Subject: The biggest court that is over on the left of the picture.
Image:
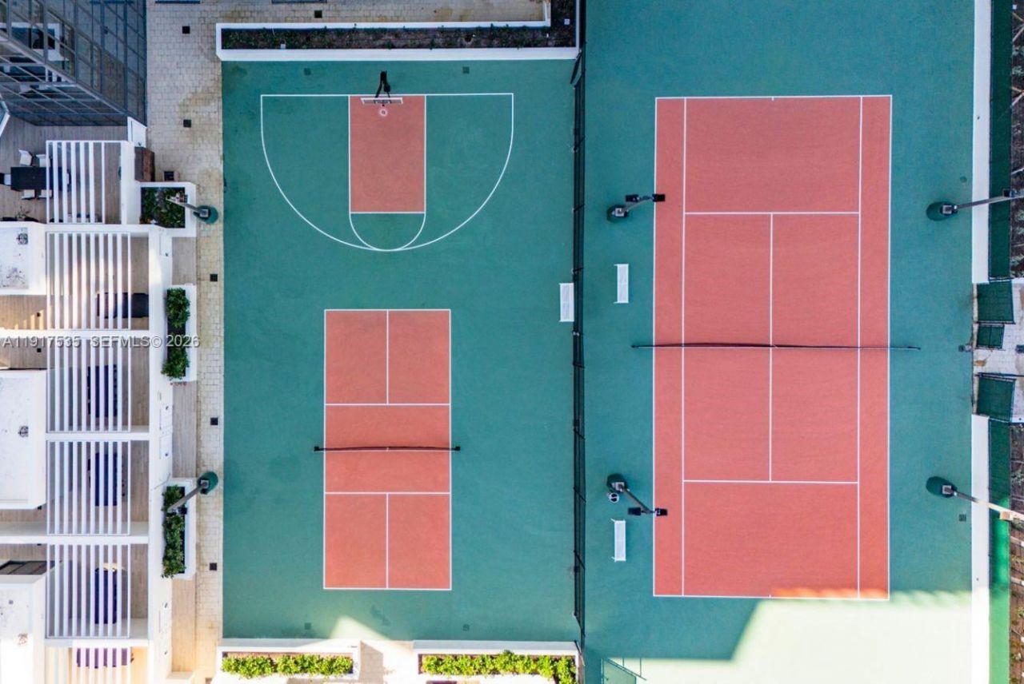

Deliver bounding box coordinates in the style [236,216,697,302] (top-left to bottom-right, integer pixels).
[222,60,573,643]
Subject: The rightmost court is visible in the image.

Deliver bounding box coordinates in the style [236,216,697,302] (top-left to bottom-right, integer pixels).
[574,0,973,684]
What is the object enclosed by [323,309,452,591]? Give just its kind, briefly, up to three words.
sports court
